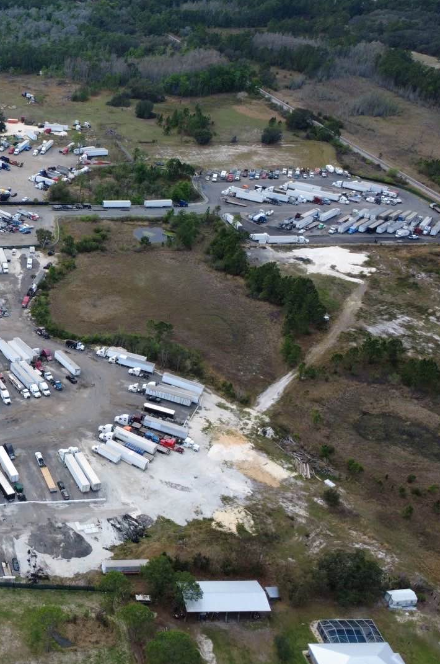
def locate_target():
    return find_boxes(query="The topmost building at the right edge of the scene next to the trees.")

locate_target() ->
[388,588,423,615]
